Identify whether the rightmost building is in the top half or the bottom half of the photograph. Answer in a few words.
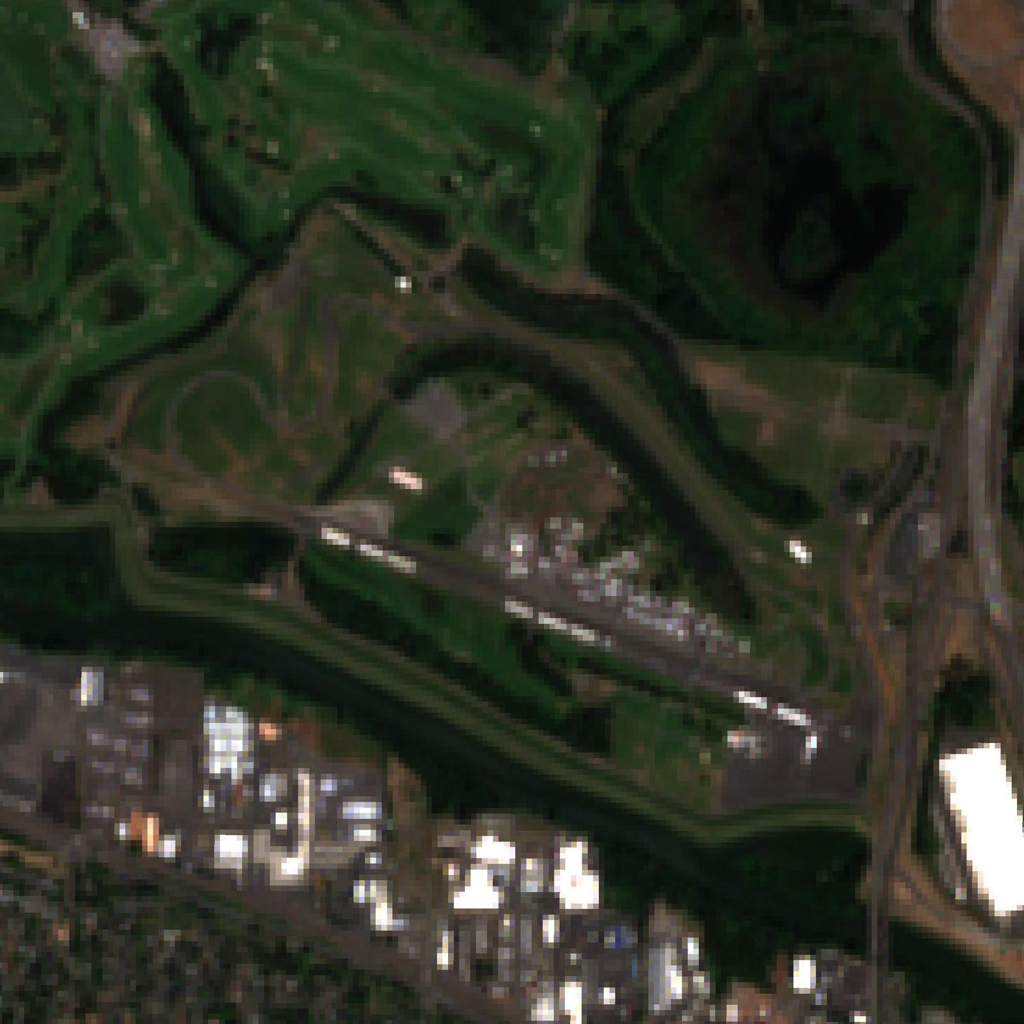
bottom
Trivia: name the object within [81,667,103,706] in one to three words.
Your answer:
shed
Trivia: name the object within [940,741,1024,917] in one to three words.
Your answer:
building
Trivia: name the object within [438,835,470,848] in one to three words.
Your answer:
shed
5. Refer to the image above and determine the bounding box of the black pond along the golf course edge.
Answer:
[330,192,446,246]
